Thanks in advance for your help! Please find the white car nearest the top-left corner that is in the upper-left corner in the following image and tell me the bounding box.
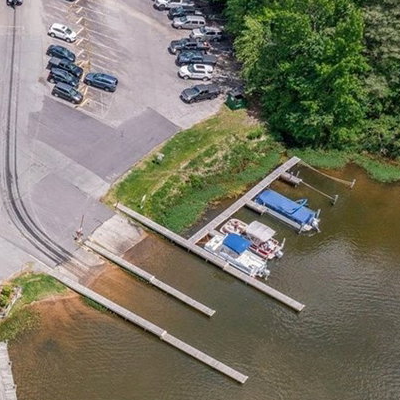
[46,21,79,42]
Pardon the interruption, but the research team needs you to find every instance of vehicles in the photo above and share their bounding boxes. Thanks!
[45,64,81,87]
[167,36,212,54]
[166,4,208,20]
[44,44,77,60]
[189,24,226,40]
[171,13,208,31]
[177,63,216,81]
[178,80,225,102]
[49,79,86,104]
[44,55,86,78]
[82,70,121,92]
[174,49,221,67]
[154,0,195,10]
[46,21,79,42]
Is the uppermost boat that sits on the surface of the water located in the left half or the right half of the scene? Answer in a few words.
right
